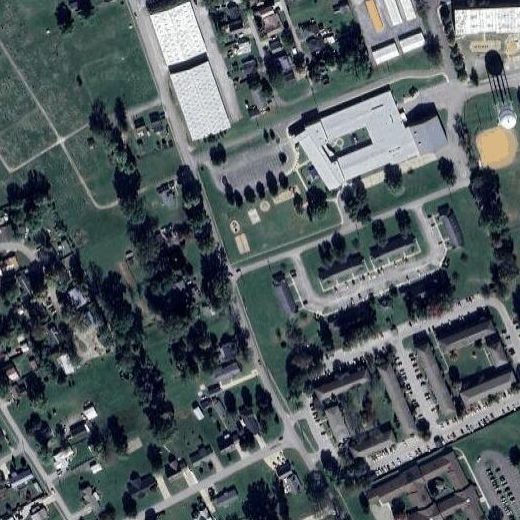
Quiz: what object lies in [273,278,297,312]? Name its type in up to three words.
house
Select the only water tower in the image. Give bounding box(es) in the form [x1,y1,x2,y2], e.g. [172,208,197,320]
[495,97,520,128]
